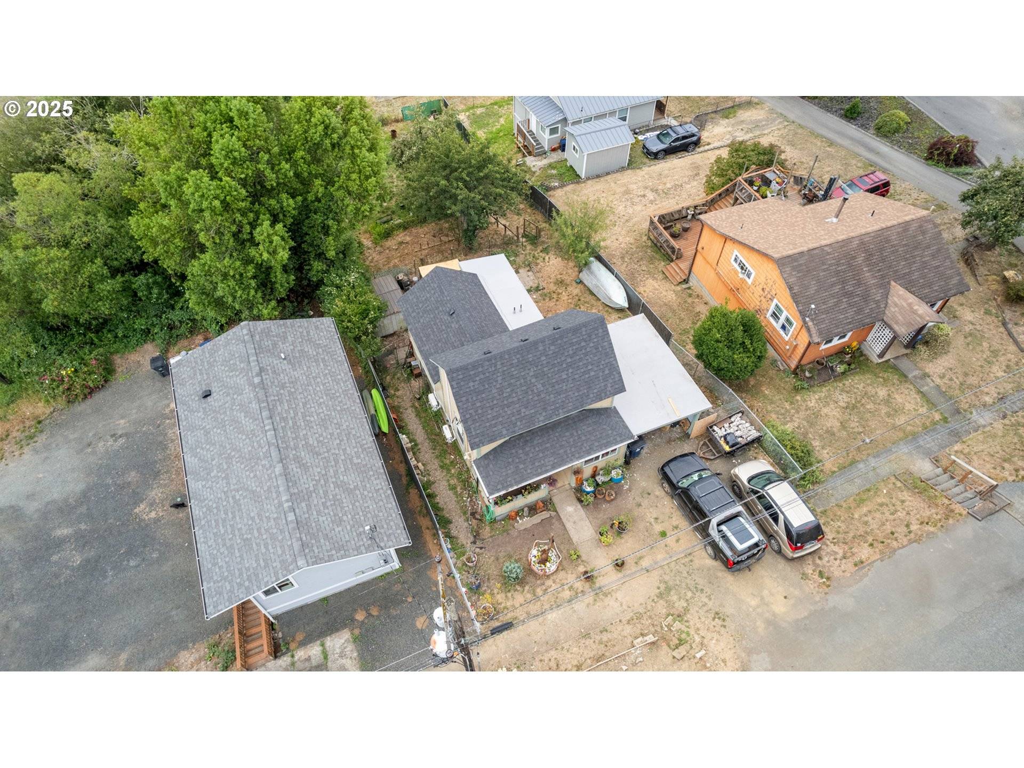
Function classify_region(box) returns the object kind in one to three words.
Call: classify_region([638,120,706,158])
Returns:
car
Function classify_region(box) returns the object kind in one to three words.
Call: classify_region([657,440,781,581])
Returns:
truck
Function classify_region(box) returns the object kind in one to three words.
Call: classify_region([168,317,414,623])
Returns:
house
